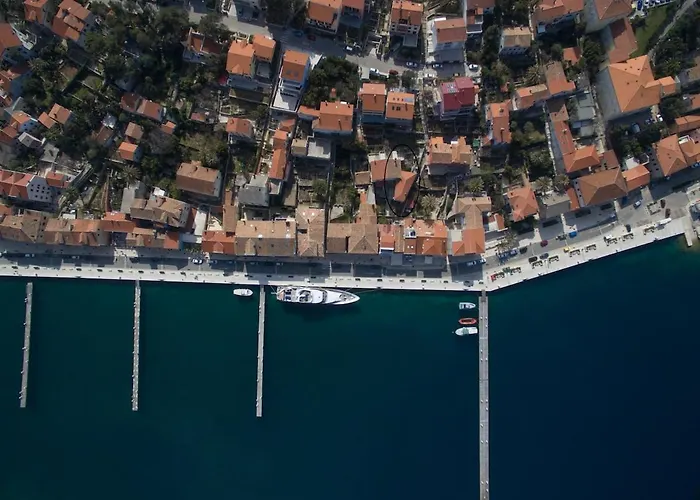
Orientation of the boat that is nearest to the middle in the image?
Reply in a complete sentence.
From this overhead view, the boat that is nearest to the middle appears to run from left to right.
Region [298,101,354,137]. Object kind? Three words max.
house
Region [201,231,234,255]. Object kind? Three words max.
house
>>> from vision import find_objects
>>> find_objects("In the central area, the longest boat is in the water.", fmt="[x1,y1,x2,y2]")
[268,285,379,305]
